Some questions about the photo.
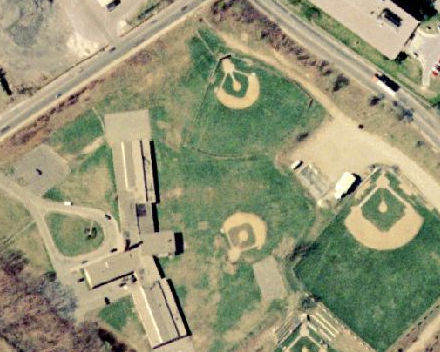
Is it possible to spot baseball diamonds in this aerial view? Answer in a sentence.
Yes, a baseball diamond is visible in the scene.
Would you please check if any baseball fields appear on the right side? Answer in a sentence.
Yes, a baseball field appears on the right side.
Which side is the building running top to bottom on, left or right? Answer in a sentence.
The building running top to bottom sits on the left side.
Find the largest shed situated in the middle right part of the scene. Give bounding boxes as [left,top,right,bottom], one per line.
[332,172,356,199]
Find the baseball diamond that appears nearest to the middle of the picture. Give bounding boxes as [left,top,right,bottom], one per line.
[221,211,266,262]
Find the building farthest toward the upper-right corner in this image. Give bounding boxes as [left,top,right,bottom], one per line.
[299,0,419,63]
